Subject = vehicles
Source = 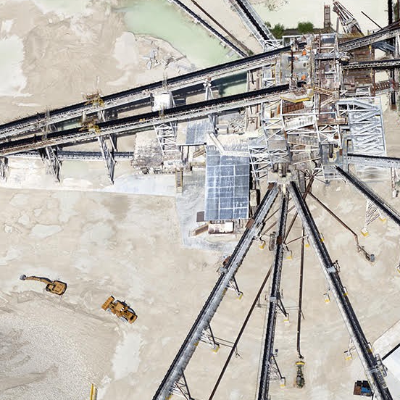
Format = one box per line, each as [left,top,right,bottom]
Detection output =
[19,274,69,292]
[100,295,137,320]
